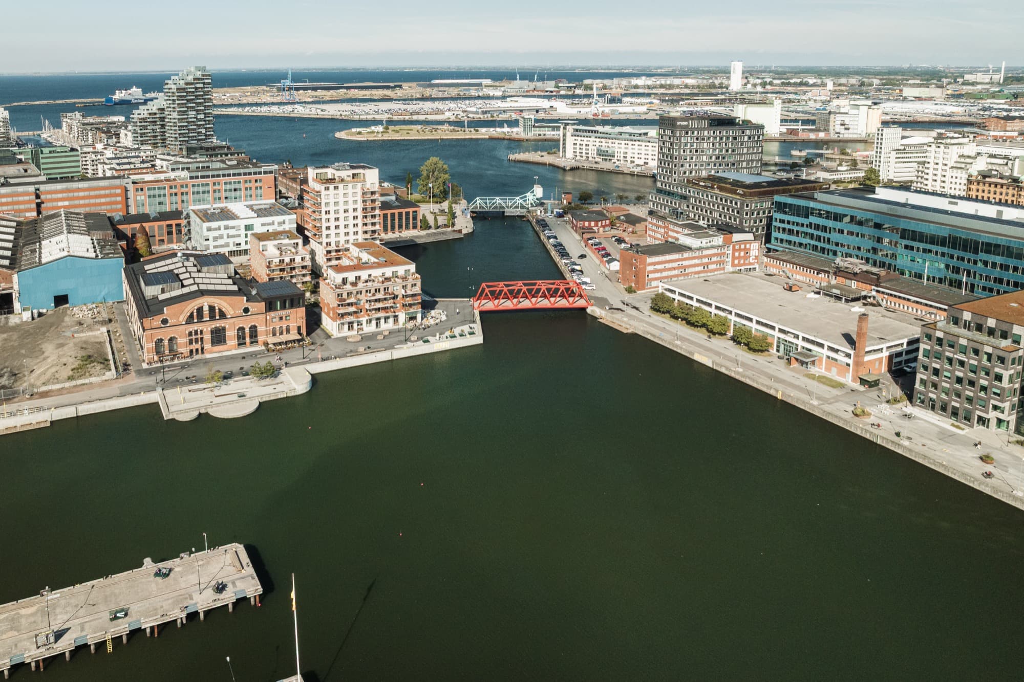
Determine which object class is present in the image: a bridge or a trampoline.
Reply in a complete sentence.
It is a bridge that can be seen here.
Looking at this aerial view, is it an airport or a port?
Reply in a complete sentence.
It's a port.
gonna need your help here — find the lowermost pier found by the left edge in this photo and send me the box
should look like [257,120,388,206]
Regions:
[0,542,263,682]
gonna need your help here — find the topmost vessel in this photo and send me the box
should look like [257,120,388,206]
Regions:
[100,85,165,105]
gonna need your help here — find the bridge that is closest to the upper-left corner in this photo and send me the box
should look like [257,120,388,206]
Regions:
[461,170,556,217]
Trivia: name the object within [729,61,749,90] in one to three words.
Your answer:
silo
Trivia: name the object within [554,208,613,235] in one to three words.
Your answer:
house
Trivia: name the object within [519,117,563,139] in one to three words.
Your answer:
building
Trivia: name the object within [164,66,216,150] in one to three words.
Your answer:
building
